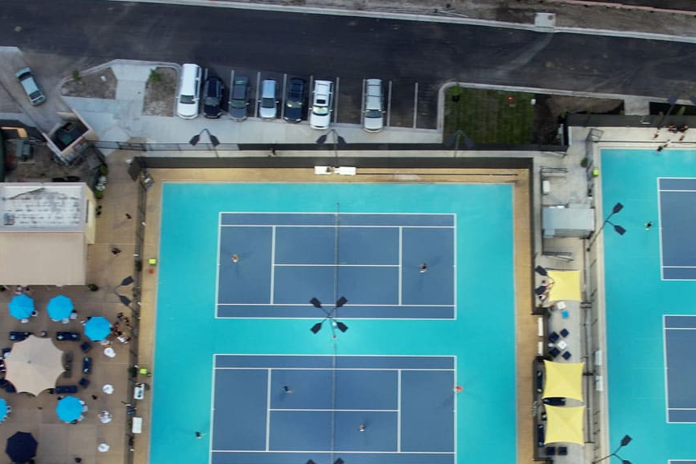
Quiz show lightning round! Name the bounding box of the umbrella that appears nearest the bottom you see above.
[7,431,40,462]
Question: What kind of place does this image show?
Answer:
sports ground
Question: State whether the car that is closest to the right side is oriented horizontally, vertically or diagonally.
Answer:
vertically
